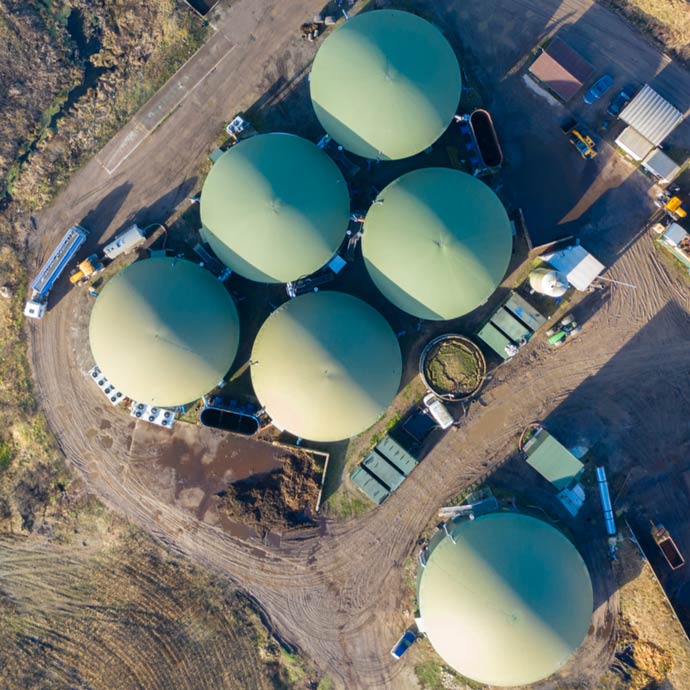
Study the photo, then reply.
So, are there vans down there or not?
Yes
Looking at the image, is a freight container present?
Yes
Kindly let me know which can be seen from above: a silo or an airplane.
silo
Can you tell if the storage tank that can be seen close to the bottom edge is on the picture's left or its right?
right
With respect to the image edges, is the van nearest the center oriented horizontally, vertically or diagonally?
diagonally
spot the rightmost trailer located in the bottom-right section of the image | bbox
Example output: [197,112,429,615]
[651,518,685,569]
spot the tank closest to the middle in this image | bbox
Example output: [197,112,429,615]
[246,289,402,442]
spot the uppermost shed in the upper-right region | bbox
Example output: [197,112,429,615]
[526,36,596,103]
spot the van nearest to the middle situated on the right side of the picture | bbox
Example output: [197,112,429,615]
[420,393,456,431]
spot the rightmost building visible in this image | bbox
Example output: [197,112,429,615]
[644,148,680,181]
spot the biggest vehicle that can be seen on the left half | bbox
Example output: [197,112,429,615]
[24,224,91,319]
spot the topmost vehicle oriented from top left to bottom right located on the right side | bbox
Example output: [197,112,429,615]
[557,119,600,164]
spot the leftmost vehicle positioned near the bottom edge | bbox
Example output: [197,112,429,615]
[389,627,416,658]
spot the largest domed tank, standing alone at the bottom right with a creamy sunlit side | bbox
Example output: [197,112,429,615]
[413,505,594,688]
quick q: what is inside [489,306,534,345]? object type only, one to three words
shipping container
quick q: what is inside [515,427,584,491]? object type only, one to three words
shed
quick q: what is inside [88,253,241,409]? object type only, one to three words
storage tank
